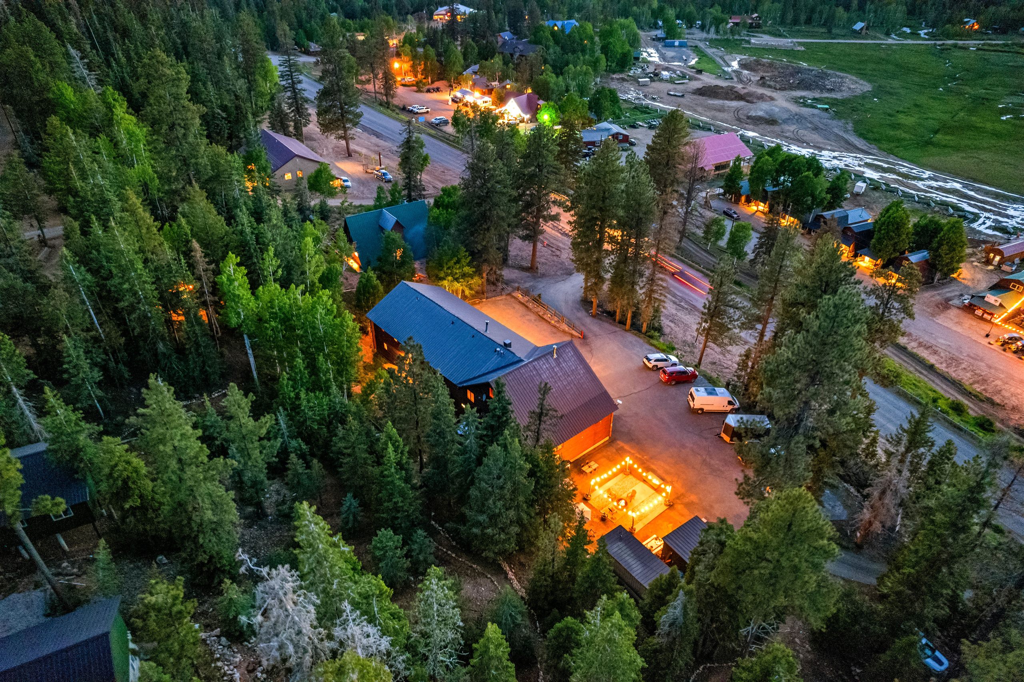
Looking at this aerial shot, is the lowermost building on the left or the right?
left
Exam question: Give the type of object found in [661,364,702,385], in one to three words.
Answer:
car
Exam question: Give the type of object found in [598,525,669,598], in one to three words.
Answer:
shed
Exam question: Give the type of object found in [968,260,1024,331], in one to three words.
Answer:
building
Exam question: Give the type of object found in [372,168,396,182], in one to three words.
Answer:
vehicle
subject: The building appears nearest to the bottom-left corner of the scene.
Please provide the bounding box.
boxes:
[0,595,146,682]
